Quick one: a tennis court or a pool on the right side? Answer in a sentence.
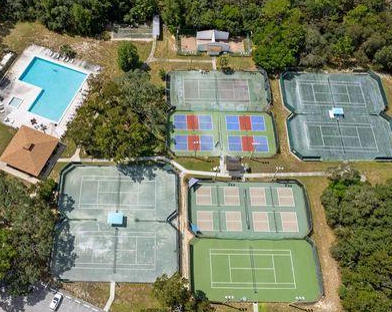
Looking on the right side, you will find a tennis court.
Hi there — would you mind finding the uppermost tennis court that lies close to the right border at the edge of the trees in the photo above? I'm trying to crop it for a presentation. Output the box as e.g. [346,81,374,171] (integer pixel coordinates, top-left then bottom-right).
[279,74,384,115]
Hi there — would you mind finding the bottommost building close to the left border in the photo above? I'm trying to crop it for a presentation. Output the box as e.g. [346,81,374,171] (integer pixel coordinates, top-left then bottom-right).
[0,126,64,180]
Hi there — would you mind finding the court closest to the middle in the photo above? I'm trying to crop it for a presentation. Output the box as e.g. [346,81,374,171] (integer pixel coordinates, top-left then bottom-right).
[174,135,214,151]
